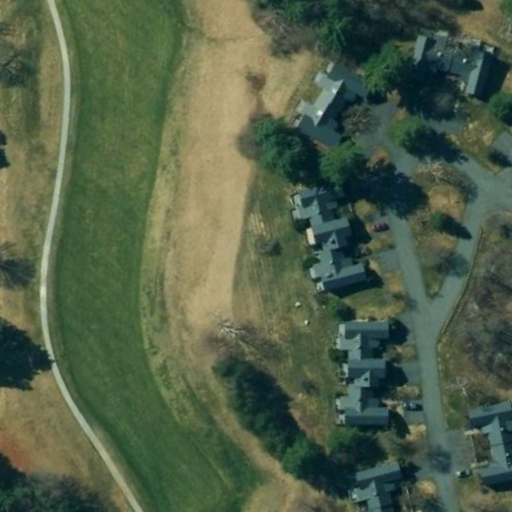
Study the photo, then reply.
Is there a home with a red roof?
No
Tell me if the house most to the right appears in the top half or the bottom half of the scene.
bottom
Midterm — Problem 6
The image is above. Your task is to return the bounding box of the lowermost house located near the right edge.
[469,401,512,488]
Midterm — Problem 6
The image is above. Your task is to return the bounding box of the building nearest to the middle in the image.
[294,180,368,292]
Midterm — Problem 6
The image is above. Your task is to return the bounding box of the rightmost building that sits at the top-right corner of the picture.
[413,29,495,95]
